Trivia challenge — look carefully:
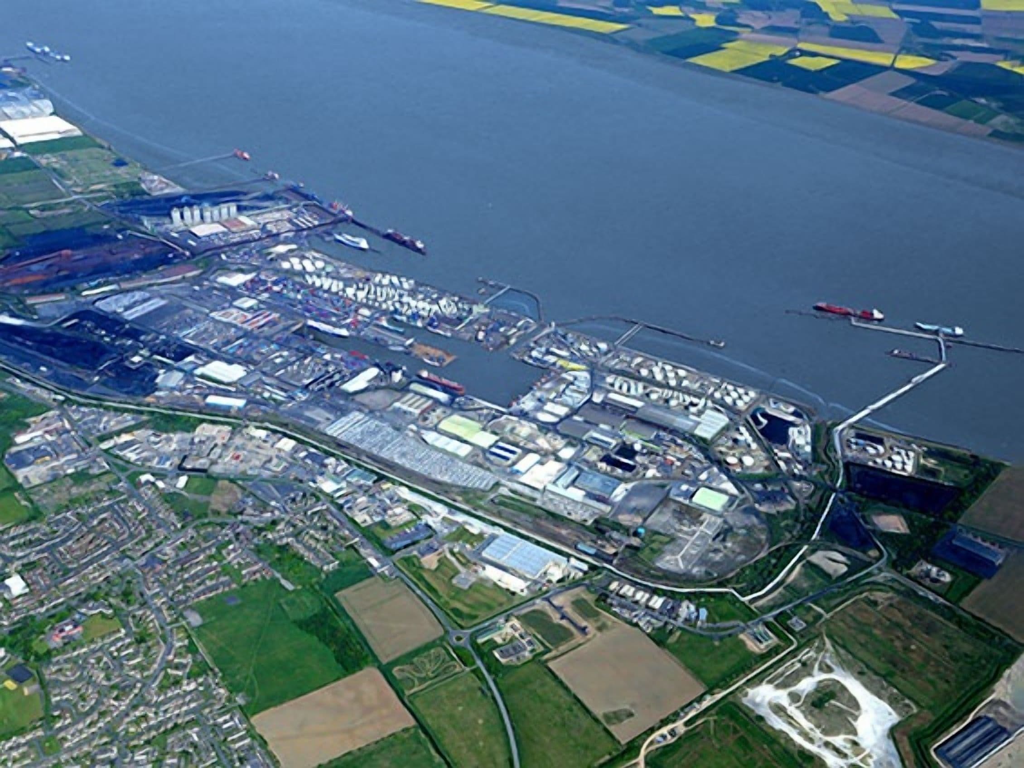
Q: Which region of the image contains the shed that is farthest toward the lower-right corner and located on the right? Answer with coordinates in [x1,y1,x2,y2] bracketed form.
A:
[934,716,1010,768]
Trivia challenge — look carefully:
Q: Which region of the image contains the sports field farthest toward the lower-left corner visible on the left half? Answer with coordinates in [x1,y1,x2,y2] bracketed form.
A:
[0,677,44,740]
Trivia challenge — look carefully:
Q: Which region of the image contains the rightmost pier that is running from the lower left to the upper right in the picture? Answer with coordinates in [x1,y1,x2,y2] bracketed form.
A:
[833,363,947,430]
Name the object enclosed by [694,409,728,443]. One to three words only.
building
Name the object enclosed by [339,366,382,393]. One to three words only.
shed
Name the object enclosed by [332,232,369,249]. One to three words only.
ship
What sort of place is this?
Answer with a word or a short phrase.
port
